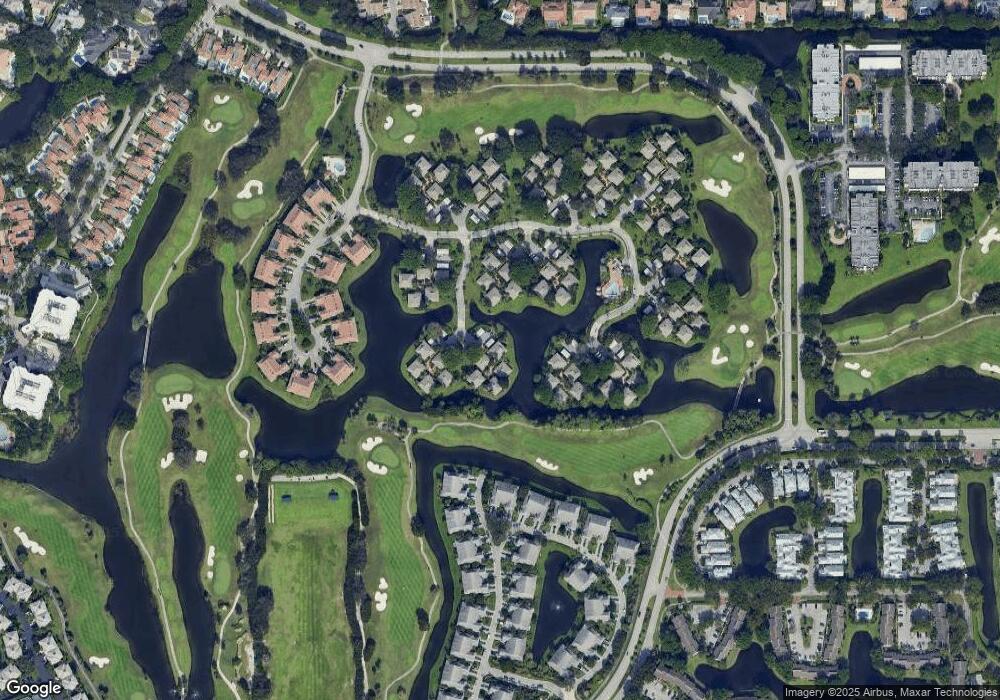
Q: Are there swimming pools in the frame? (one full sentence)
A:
Yes, the frame does contain a swimming pool.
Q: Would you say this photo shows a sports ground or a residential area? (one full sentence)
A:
This image shows a residential area.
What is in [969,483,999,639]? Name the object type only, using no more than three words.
pond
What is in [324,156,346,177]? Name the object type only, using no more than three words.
swimming pool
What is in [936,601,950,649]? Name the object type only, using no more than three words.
building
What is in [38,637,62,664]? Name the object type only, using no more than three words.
house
